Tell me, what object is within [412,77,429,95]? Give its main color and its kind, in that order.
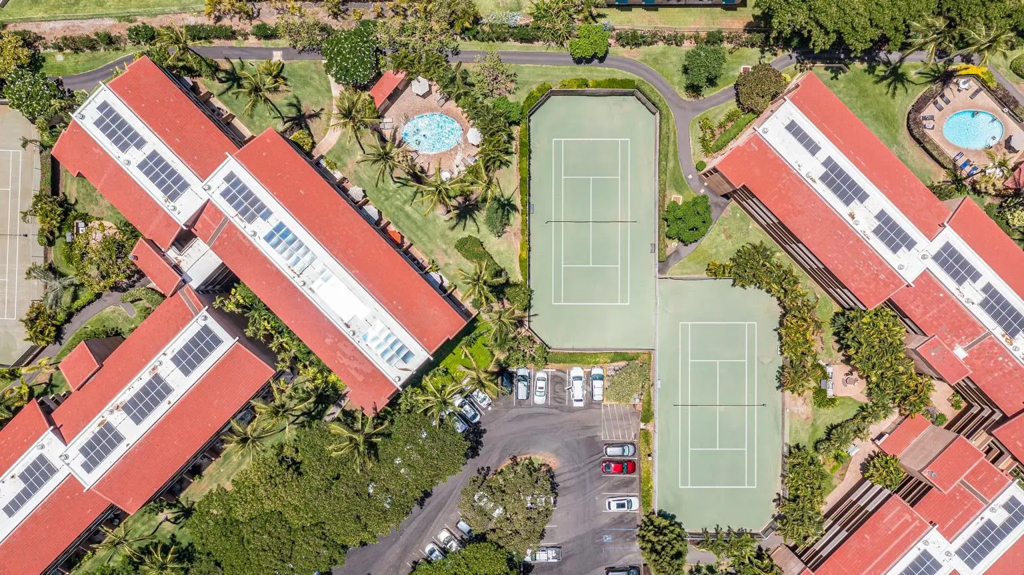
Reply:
white umbrella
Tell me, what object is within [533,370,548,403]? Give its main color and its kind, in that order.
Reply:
white car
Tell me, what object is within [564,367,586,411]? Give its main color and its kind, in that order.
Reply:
white car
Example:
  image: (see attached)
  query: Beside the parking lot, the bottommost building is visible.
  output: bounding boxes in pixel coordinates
[769,457,1024,575]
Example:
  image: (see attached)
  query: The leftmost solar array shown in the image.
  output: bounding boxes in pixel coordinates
[2,452,58,518]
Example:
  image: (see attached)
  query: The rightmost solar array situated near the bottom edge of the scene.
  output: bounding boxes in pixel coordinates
[954,486,1024,570]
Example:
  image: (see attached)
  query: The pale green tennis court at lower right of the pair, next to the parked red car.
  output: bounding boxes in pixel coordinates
[658,278,781,532]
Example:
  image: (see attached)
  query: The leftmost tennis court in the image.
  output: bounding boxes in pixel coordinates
[0,104,42,366]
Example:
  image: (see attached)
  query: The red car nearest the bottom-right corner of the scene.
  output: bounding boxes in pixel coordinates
[602,460,634,476]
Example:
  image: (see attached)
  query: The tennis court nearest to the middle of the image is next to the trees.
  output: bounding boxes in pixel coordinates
[530,95,654,350]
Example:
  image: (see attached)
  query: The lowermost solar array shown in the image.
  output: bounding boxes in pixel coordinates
[899,548,943,575]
